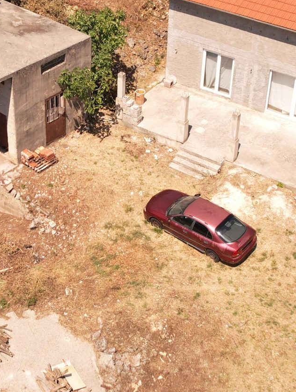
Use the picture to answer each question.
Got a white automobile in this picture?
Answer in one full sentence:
No, there's no white automobile here.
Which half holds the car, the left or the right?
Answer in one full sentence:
The car sits on the right side.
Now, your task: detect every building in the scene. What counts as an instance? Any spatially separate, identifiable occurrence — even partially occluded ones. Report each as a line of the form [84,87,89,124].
[0,0,92,165]
[166,0,296,122]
